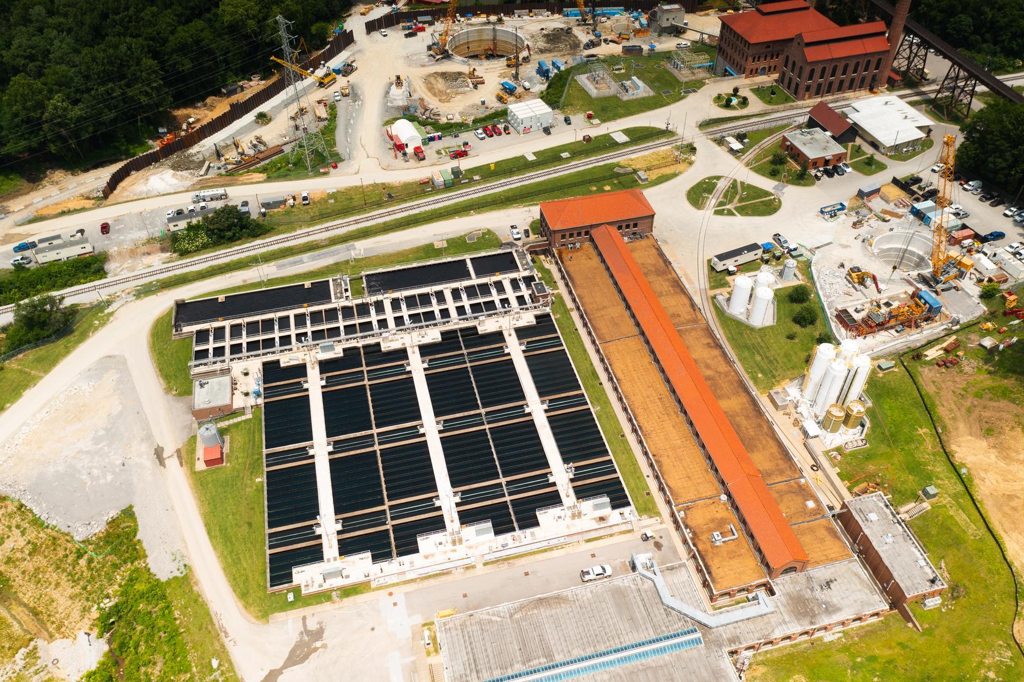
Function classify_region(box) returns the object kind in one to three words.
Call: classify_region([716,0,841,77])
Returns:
building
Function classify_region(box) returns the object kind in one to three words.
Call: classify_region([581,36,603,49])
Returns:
vehicle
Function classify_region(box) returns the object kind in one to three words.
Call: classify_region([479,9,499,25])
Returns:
work vehicle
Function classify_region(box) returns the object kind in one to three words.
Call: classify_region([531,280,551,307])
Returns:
shed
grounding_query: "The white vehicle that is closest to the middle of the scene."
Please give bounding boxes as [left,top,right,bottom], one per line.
[509,225,521,239]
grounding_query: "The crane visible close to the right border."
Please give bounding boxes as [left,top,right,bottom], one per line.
[893,133,978,294]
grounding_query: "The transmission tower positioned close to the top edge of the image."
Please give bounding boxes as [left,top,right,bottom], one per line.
[264,16,329,174]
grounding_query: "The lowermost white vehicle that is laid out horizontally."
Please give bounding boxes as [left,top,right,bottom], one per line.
[580,565,613,581]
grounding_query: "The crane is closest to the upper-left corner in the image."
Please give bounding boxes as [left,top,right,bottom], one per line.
[270,57,345,86]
